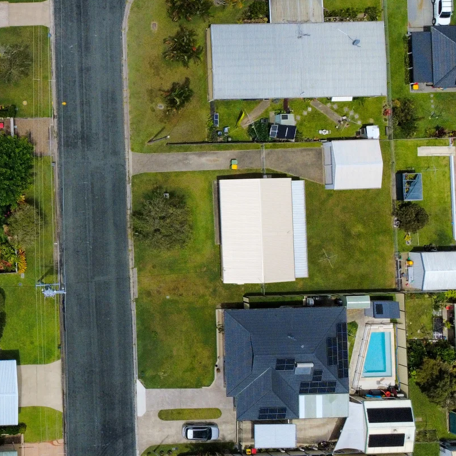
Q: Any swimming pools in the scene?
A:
Yes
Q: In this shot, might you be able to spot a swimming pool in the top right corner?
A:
No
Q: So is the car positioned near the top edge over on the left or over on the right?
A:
right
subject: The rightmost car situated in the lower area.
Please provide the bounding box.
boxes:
[181,423,219,442]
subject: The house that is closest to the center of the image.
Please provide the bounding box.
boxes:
[213,178,308,284]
